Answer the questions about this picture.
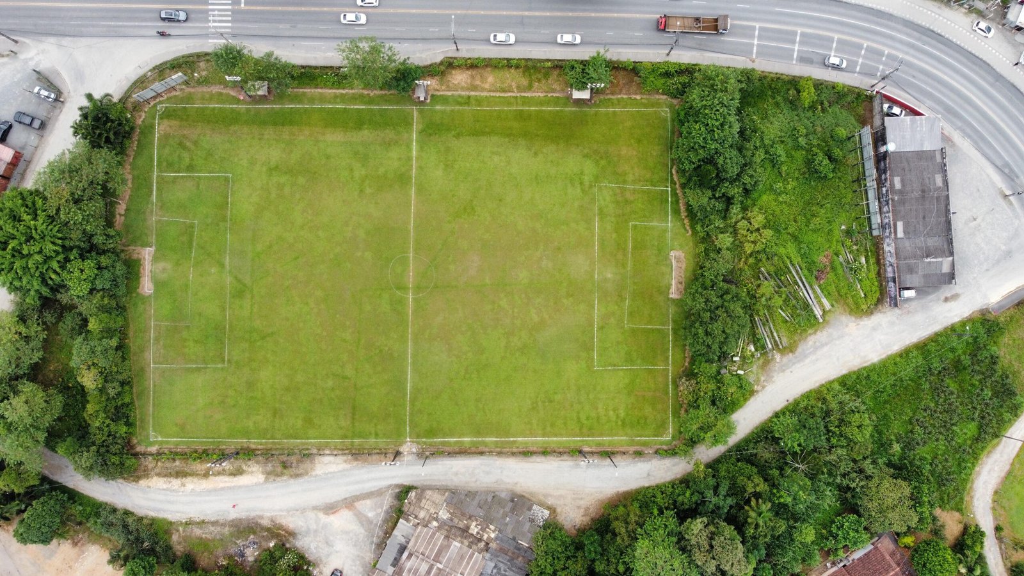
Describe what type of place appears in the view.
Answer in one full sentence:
It's a sports ground.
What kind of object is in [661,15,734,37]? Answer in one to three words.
truck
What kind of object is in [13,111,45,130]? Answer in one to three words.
vehicle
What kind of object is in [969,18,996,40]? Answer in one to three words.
car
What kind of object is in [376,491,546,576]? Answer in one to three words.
building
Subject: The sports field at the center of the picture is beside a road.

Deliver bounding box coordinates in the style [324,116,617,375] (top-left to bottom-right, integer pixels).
[122,90,695,448]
